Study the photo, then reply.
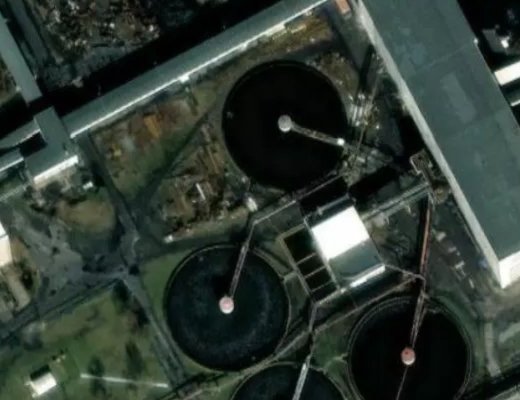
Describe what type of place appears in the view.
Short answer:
industrial area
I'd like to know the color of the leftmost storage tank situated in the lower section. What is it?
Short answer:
black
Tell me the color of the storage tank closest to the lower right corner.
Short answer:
black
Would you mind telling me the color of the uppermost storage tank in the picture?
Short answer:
black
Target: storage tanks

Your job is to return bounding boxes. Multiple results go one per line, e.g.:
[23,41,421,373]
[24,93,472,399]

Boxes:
[347,295,471,400]
[232,361,347,400]
[222,65,347,190]
[165,240,289,369]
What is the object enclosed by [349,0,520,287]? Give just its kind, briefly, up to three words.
building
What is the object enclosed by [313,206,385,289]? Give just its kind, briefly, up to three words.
building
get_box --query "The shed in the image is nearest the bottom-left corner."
[29,371,57,396]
